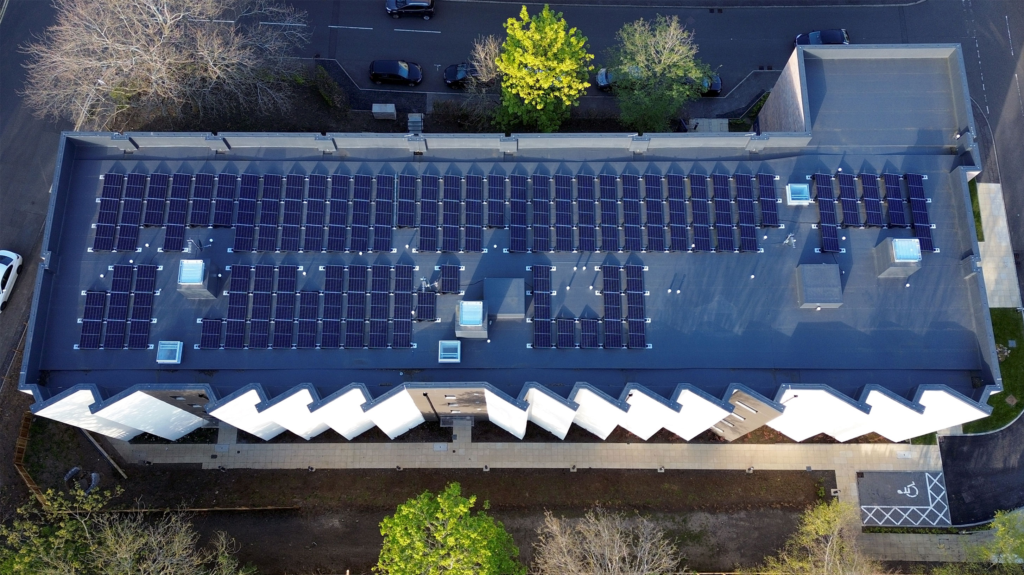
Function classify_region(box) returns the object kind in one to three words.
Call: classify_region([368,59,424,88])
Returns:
car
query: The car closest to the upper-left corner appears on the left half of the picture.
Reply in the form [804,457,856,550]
[0,253,26,308]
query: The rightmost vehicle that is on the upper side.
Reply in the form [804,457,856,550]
[791,26,852,50]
